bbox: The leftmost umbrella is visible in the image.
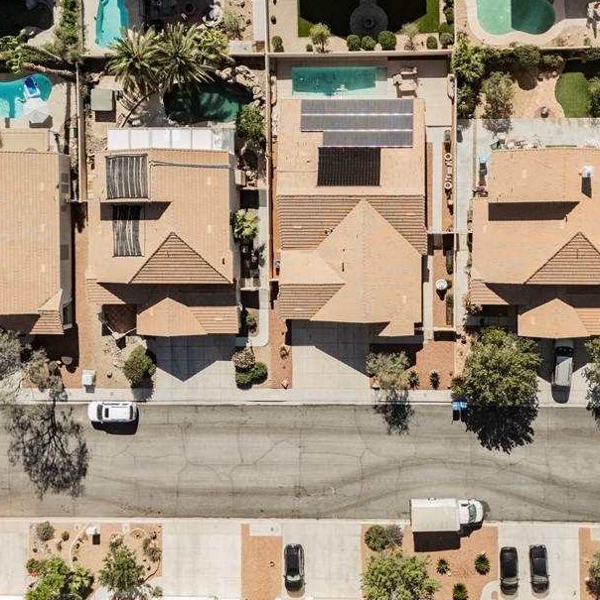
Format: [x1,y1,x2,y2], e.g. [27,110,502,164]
[24,98,49,122]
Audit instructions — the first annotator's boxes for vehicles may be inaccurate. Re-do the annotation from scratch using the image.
[89,401,139,424]
[551,338,575,386]
[409,498,482,531]
[527,543,551,592]
[283,542,305,589]
[497,544,520,593]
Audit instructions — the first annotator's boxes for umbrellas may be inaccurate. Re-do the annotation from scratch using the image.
[24,98,49,122]
[393,75,403,86]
